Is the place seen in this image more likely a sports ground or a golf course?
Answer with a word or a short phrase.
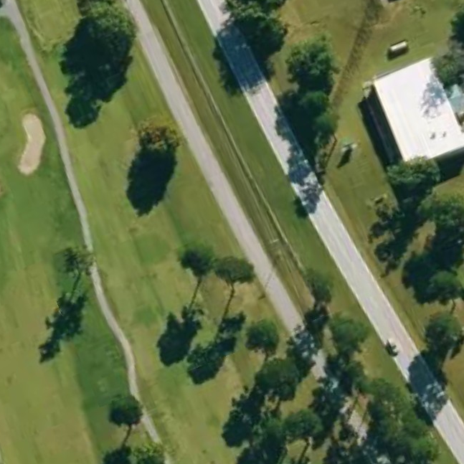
golf course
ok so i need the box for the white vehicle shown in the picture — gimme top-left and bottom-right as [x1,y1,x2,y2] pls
[387,335,399,352]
